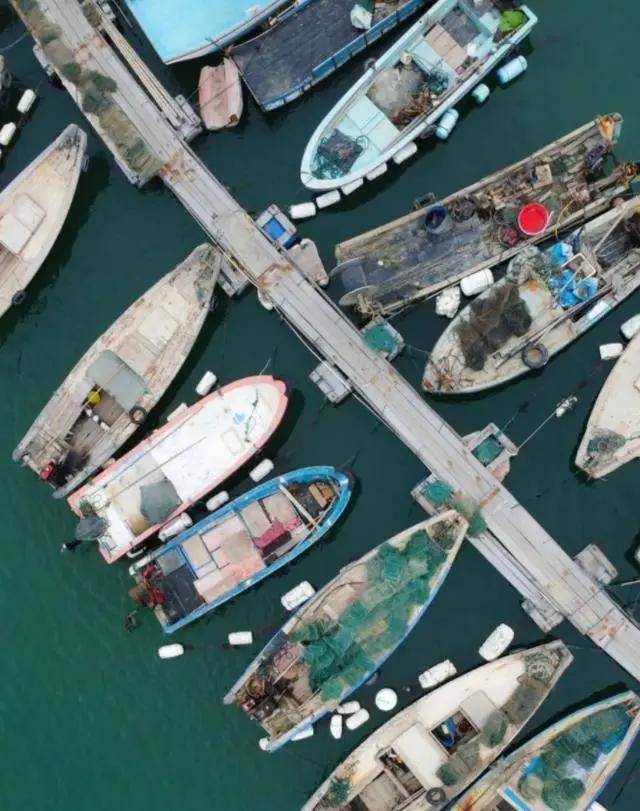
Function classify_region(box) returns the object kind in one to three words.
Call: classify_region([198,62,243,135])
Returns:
boat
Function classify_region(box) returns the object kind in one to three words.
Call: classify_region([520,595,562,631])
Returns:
pier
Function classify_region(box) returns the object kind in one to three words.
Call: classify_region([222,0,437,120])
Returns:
boat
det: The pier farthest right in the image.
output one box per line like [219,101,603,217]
[572,543,616,584]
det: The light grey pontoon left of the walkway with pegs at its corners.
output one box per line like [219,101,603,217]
[309,363,352,404]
